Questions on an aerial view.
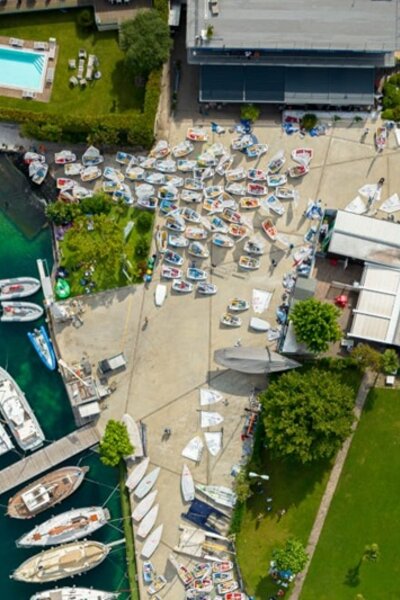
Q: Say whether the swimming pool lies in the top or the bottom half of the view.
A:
top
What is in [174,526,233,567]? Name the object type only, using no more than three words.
boat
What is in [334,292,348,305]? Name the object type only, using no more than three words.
umbrella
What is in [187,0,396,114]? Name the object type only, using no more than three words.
building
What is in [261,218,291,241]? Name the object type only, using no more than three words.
boat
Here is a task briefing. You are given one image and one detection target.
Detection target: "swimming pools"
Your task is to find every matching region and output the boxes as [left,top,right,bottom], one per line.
[0,36,59,102]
